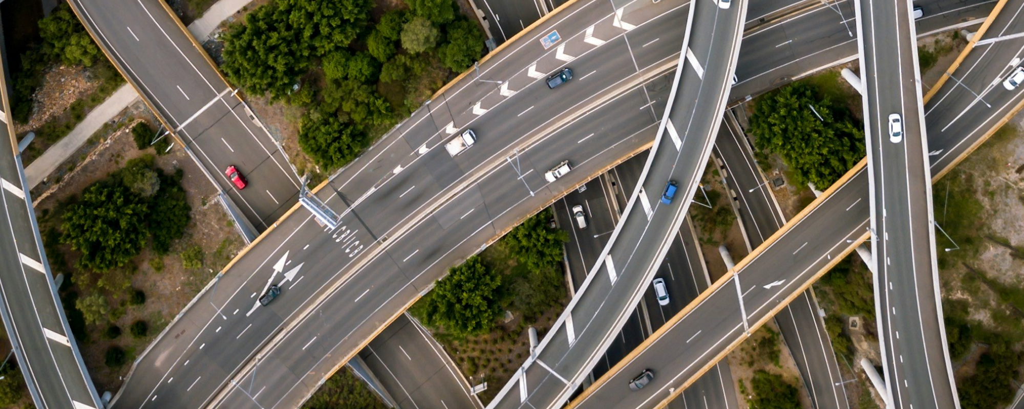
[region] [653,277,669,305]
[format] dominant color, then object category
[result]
white car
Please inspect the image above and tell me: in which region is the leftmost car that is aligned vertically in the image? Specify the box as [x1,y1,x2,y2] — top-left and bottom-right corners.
[573,204,587,230]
